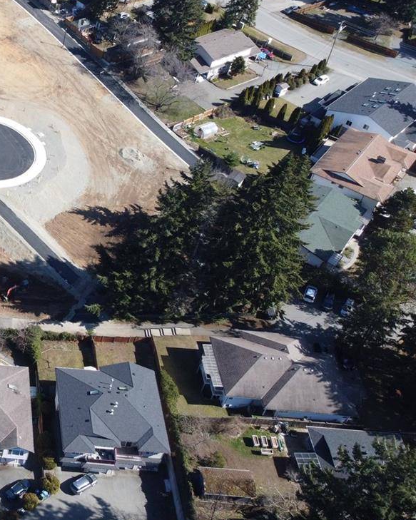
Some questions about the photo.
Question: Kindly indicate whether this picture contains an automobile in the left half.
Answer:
Yes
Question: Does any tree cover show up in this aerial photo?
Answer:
Yes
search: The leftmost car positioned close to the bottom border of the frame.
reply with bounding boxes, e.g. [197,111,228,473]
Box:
[2,475,31,500]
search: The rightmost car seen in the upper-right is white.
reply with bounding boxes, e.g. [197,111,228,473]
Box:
[315,71,331,84]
